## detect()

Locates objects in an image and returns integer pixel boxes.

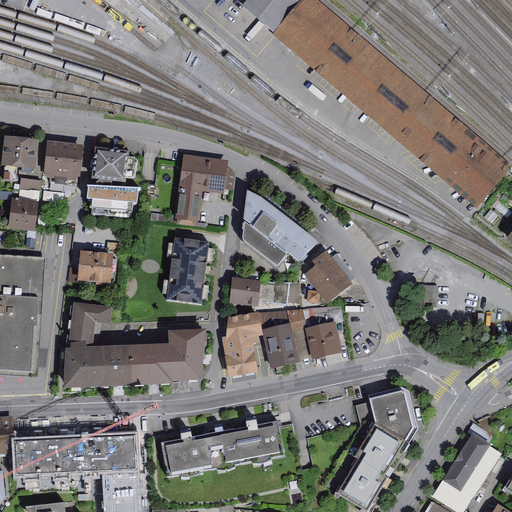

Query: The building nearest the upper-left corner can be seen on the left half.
[2,135,39,168]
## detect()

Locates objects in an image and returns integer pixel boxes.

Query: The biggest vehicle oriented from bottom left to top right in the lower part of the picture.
[468,360,503,389]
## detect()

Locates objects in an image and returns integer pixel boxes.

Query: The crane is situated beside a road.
[0,404,158,472]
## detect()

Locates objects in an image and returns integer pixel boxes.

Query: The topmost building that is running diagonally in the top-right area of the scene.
[273,0,510,208]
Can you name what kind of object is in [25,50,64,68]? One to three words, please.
rail car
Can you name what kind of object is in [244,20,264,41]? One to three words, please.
vehicle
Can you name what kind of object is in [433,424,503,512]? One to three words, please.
building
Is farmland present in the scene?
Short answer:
No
